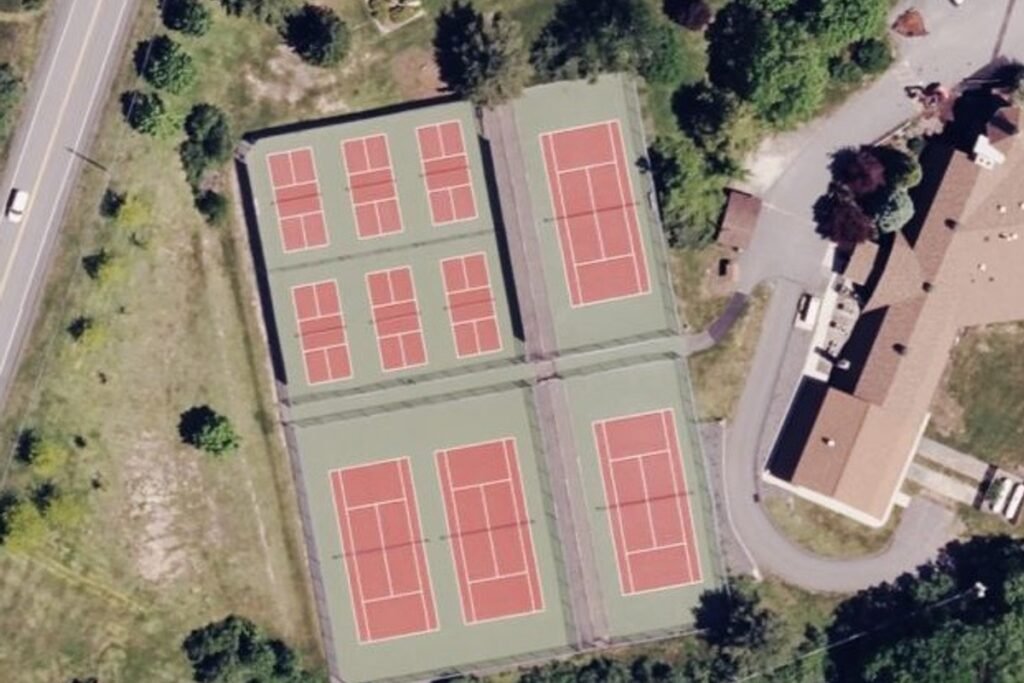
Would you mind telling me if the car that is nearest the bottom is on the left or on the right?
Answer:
right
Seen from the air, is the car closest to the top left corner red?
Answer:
No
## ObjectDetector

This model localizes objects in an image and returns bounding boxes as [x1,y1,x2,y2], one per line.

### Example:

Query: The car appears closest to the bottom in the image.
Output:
[796,293,818,328]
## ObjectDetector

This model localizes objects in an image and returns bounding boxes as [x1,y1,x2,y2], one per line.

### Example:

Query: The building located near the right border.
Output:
[792,100,1024,521]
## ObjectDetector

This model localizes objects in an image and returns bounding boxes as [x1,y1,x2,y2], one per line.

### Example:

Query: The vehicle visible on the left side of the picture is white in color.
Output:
[7,189,30,224]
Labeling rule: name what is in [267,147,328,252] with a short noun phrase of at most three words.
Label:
sports court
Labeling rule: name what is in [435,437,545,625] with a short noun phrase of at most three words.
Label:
tennis court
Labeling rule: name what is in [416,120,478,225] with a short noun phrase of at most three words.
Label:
sports court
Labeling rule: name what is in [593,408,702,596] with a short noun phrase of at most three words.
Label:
tennis court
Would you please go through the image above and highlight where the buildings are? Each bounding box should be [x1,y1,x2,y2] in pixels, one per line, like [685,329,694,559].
[718,192,762,246]
[792,100,1024,521]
